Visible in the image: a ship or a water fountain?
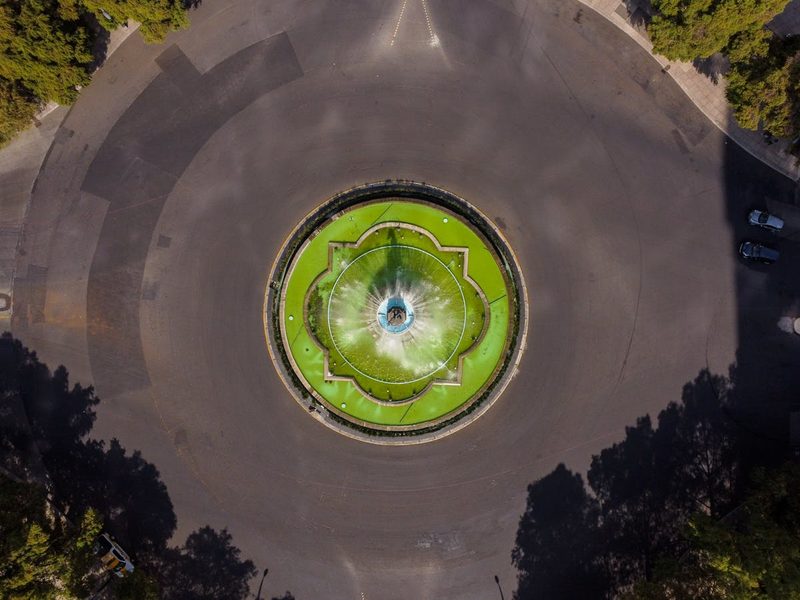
water fountain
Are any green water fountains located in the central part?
Yes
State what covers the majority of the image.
paved ground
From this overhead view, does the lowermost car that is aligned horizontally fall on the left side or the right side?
right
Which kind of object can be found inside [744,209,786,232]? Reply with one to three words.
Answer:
car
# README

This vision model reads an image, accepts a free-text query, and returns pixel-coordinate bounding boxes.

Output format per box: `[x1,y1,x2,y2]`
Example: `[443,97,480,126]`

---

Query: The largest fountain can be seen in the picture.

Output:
[278,198,512,428]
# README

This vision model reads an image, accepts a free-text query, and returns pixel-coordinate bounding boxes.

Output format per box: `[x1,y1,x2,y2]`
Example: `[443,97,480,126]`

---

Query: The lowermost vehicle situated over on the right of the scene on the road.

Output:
[737,241,780,262]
